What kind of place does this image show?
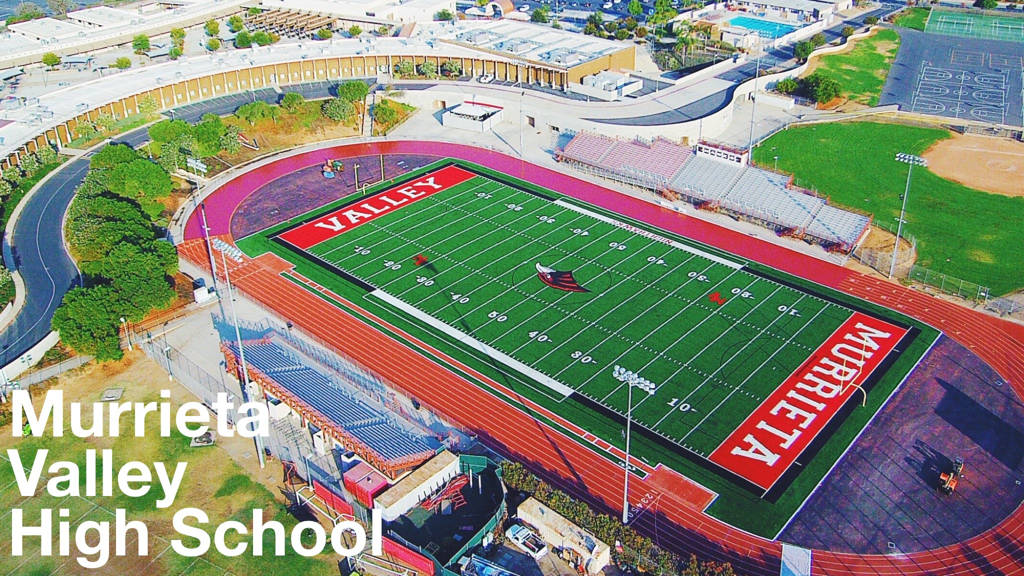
sports ground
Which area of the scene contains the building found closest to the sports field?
top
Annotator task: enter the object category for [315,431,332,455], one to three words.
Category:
shed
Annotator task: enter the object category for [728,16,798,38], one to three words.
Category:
swimming pool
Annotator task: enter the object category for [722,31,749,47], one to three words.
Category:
building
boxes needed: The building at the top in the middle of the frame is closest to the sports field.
[441,102,499,132]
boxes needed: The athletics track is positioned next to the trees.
[179,138,1024,576]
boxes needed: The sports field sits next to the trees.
[236,158,946,539]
